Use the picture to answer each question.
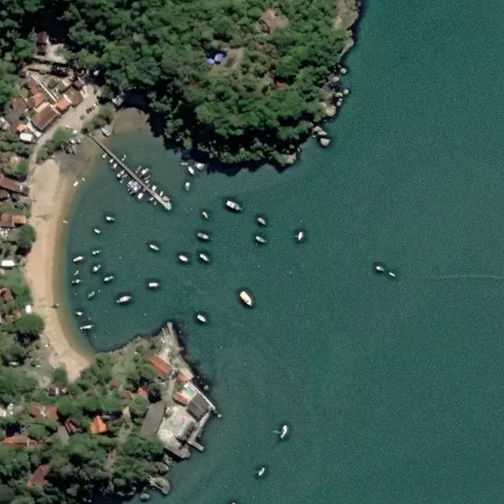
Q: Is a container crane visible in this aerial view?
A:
No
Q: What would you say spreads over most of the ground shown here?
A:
water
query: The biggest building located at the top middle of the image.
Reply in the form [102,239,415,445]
[259,9,283,33]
